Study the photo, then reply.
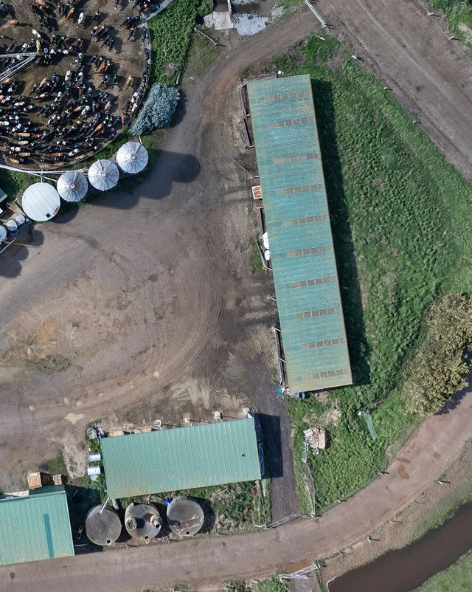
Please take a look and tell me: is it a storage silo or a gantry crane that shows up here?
storage silo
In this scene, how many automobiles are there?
0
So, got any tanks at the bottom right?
No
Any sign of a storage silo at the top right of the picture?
No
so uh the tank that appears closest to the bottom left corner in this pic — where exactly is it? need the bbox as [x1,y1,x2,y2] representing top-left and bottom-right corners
[85,502,122,543]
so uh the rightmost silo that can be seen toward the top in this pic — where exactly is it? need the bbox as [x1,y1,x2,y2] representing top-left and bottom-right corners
[113,140,148,177]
